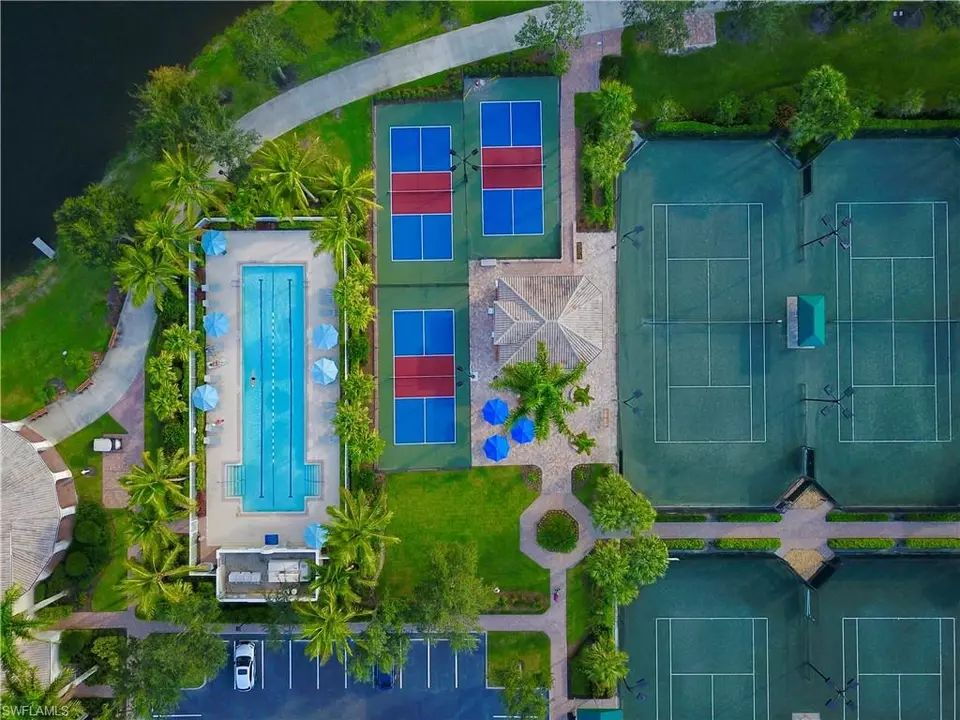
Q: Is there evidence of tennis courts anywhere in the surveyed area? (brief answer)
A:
Yes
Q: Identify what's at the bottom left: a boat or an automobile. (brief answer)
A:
automobile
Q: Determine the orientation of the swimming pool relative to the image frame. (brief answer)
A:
up and down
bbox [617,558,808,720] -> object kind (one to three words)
tennis court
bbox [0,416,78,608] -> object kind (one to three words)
building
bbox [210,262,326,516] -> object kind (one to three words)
swimming pool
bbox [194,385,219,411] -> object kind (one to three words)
umbrella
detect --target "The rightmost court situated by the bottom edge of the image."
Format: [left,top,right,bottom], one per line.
[808,556,960,720]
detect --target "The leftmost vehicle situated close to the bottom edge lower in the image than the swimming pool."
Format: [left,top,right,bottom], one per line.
[232,642,256,693]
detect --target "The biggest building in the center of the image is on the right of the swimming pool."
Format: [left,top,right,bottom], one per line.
[494,275,603,370]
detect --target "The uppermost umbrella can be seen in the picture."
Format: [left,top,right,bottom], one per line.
[202,231,228,256]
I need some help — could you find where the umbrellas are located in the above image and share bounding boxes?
[302,521,328,548]
[194,385,219,411]
[202,231,228,256]
[482,398,507,424]
[313,359,338,383]
[313,323,338,350]
[483,434,510,460]
[204,311,231,338]
[509,416,535,443]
